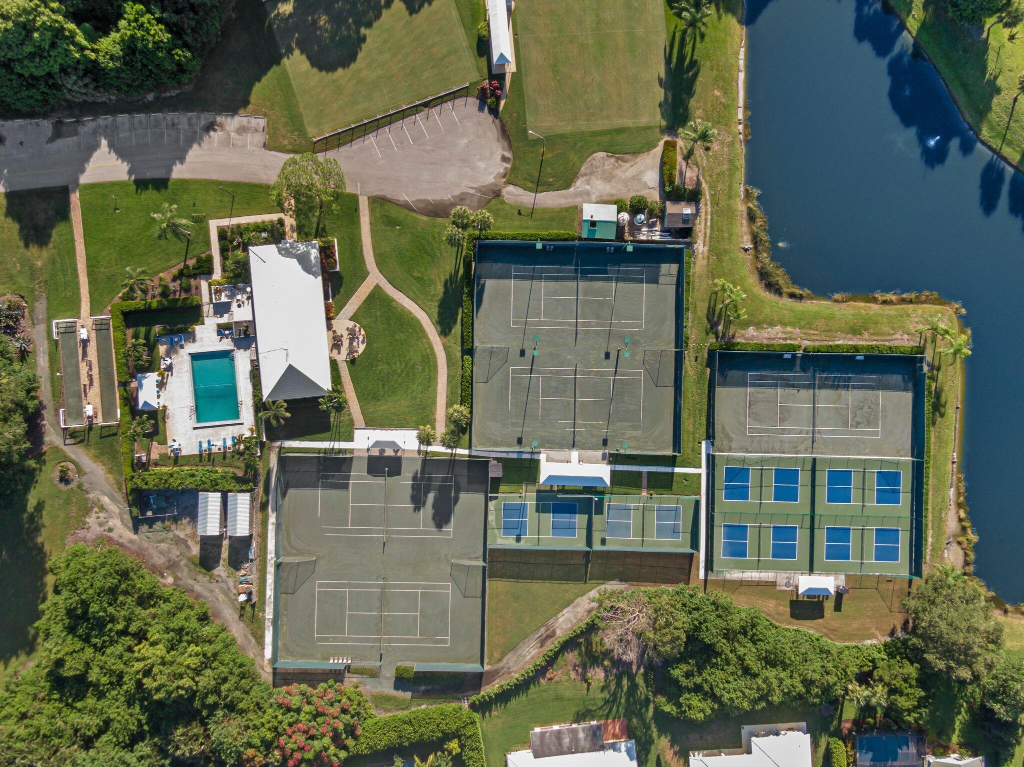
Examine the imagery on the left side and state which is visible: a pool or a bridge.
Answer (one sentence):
Visible on the left side is a pool.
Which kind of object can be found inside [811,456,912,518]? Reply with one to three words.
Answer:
sports court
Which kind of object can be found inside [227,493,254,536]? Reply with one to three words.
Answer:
shed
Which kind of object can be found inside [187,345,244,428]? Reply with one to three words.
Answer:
swimming pool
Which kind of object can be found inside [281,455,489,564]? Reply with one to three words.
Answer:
tennis court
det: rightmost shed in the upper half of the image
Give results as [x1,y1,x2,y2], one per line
[663,202,695,229]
